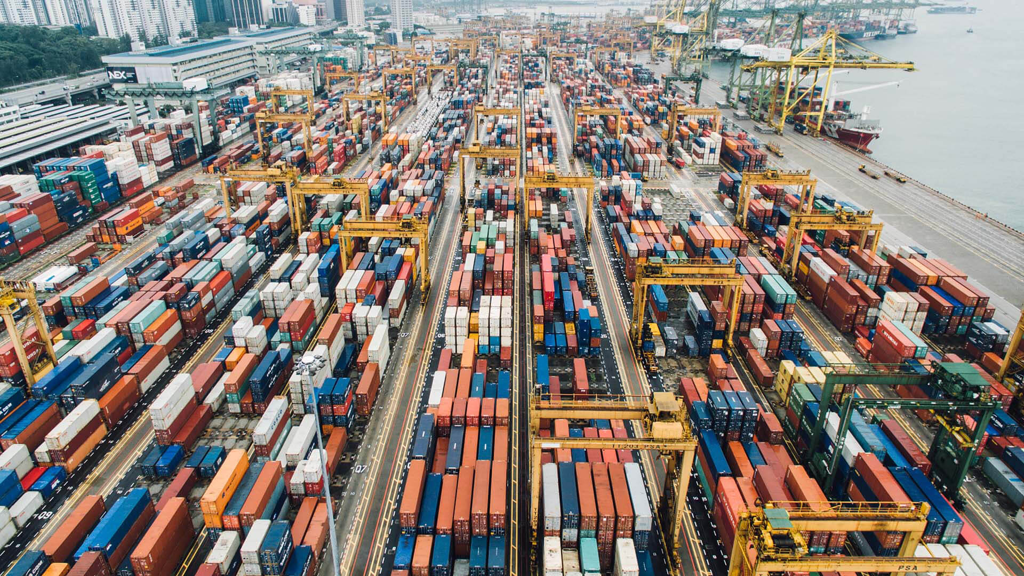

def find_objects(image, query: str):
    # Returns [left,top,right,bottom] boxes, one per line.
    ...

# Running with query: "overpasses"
[0,56,107,107]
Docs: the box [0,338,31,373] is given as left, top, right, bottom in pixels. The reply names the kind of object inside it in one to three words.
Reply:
shipping container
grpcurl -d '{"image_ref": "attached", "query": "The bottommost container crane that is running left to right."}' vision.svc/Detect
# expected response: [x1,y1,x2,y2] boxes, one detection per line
[715,498,958,576]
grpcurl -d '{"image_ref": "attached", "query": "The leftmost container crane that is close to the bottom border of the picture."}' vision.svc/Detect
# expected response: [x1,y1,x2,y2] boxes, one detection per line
[526,389,692,553]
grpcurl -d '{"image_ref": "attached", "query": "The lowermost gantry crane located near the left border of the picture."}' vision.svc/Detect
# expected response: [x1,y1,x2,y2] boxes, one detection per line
[0,272,67,372]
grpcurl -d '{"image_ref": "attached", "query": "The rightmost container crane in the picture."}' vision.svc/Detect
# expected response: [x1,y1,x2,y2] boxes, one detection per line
[998,319,1024,424]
